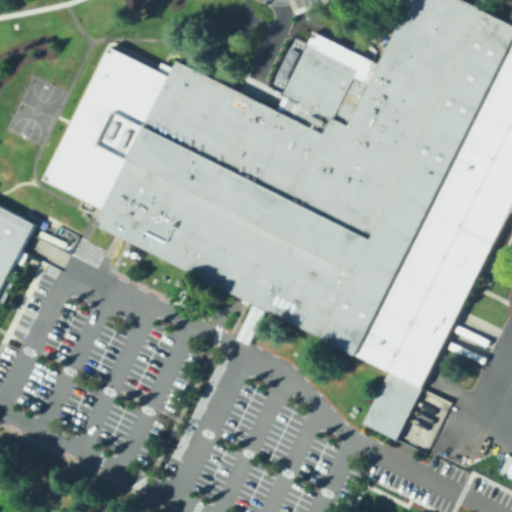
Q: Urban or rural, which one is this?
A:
urban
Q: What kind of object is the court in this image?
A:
basketball court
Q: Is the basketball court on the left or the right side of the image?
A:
left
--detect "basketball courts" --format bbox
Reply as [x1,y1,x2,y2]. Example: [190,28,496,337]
[7,73,68,148]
